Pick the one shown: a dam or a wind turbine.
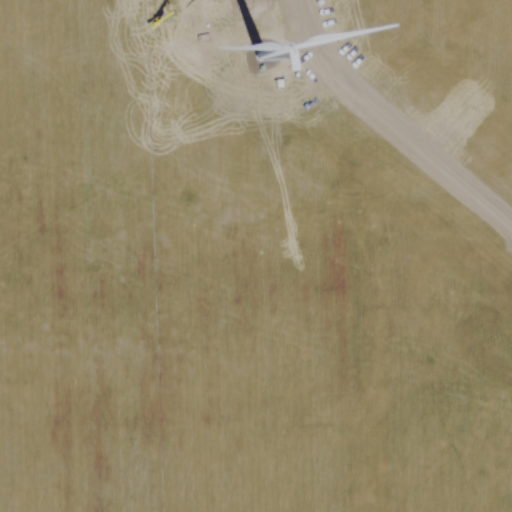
wind turbine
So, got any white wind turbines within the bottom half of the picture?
No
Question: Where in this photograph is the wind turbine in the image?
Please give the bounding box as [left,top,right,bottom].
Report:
[220,24,399,71]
